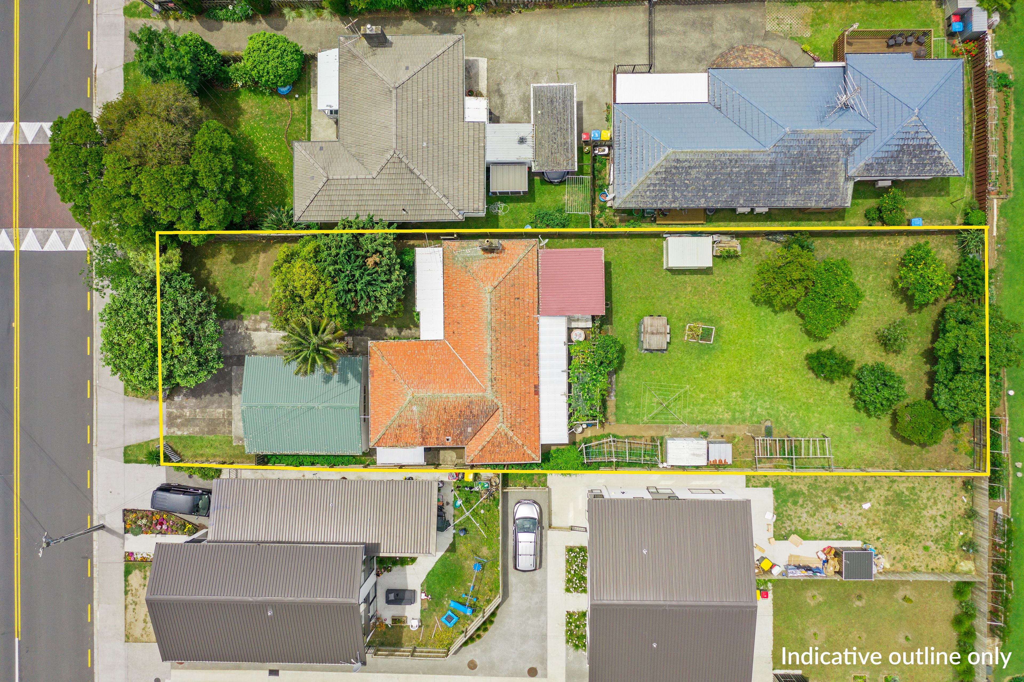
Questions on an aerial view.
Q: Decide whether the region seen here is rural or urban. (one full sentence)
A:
The area shown here is urban.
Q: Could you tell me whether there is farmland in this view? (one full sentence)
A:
No, farmland can't be seen anywhere here.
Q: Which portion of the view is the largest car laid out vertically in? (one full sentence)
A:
Look in the bottom portion of the view to spot the largest car laid out vertically.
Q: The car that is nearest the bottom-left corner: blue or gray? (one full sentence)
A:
The car that is nearest the bottom-left corner looks gray in the image.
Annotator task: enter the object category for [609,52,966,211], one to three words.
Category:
house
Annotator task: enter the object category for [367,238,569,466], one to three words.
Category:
house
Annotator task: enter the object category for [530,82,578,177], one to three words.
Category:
building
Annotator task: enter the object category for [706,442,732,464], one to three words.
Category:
shed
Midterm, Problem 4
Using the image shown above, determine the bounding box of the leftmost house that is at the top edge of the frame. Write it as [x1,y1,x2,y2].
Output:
[292,23,489,223]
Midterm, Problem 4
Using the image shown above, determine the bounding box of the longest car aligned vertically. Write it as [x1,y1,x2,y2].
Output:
[510,499,543,572]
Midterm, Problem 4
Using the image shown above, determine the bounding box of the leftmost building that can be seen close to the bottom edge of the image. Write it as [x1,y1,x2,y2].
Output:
[145,478,440,666]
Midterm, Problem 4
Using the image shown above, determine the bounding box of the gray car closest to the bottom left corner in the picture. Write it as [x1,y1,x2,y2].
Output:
[149,482,210,522]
